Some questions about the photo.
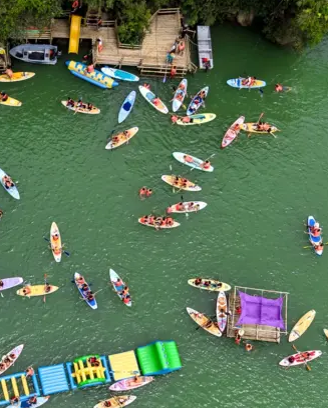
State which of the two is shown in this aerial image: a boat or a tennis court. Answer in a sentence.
I can see a boat in this picture.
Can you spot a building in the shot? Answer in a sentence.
No, the frame has no building in it.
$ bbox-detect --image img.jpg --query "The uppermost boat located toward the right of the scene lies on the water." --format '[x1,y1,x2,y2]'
[197,25,225,72]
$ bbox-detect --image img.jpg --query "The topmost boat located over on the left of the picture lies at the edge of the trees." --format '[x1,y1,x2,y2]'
[10,44,64,63]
